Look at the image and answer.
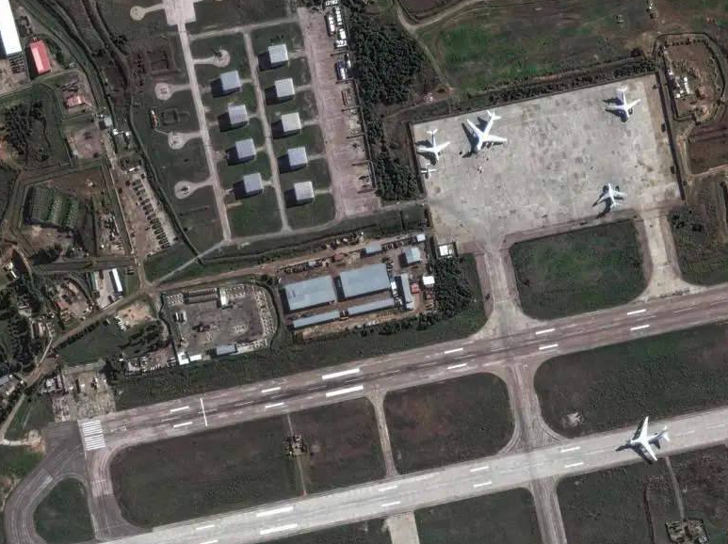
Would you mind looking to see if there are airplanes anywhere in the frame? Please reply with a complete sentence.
Yes, the photo shows an airplane.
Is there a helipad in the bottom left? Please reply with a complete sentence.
No, looking in the bottom left, there is no helipad.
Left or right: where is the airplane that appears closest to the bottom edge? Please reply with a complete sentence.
The airplane that appears closest to the bottom edge appears in the right half of the scene.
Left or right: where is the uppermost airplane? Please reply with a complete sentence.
You can find the uppermost airplane on the right side of the picture.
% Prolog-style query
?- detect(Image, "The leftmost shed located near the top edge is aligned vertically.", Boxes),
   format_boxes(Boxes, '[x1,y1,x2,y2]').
[0,0,22,57]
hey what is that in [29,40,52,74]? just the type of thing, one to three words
building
